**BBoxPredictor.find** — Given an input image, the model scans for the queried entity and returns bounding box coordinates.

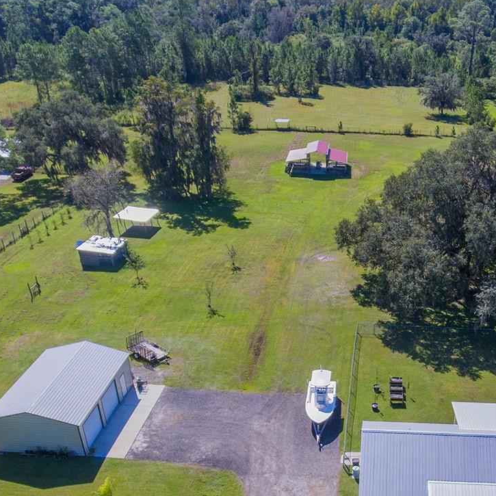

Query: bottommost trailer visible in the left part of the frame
[124,330,169,369]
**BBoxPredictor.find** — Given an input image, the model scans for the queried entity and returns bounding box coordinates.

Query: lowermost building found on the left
[0,342,133,454]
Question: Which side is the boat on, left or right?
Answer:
right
